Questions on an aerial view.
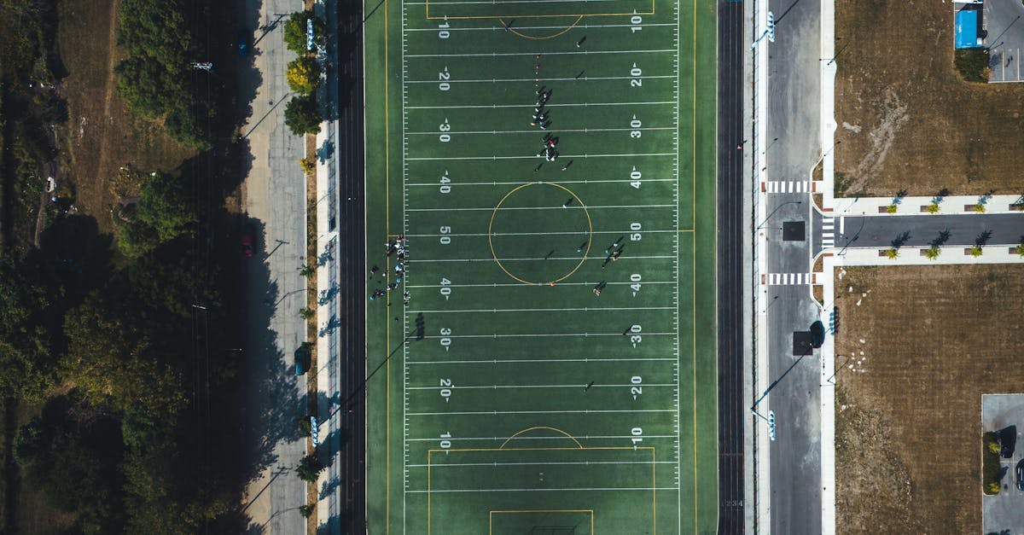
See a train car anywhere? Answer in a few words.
No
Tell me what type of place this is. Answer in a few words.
sports ground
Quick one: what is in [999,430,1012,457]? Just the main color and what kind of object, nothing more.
black vehicle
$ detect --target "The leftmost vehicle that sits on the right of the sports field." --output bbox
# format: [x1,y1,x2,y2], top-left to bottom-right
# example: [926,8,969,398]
[810,327,823,351]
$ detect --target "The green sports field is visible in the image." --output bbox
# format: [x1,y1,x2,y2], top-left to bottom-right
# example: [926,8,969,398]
[364,0,717,535]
